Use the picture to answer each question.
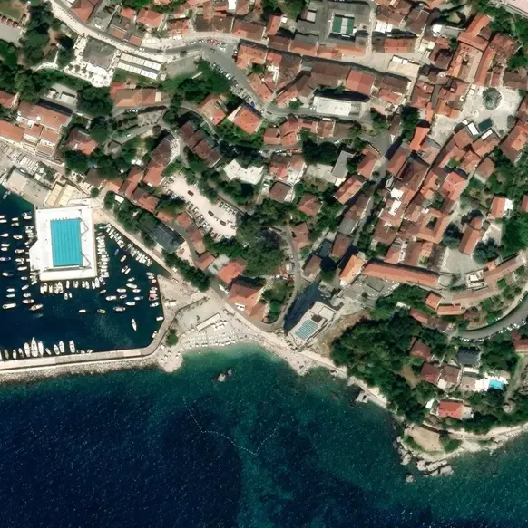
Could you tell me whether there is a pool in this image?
Yes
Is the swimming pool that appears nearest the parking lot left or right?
left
